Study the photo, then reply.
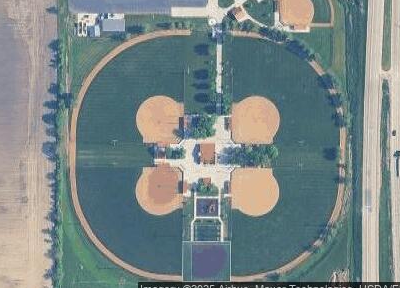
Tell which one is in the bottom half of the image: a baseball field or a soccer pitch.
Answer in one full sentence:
What appears in the bottom half of the image is a baseball field.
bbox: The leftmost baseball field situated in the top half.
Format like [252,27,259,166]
[69,29,191,155]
